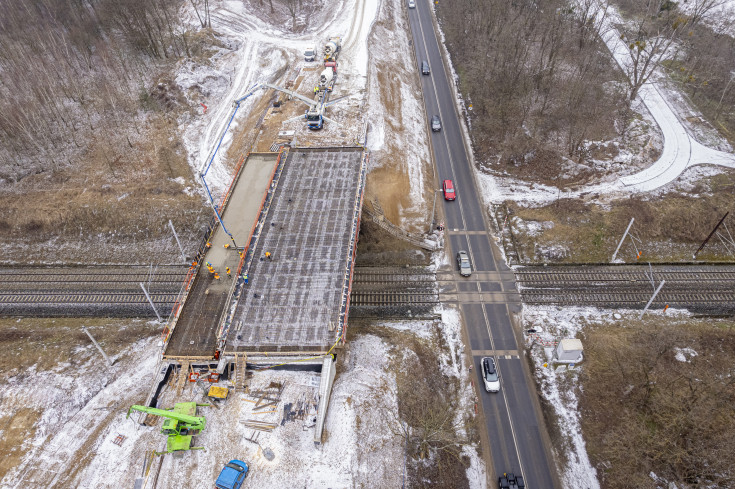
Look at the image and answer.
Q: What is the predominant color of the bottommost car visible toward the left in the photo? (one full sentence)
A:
The bottommost car visible toward the left looks blue in the image.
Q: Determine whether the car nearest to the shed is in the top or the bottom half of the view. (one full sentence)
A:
Seen from above, the car nearest to the shed lies in the bottom half of the view.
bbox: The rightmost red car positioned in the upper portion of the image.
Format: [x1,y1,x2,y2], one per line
[442,177,457,197]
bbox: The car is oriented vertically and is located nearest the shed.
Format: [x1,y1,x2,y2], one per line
[477,353,499,390]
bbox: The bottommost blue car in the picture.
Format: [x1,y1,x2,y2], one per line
[211,454,247,489]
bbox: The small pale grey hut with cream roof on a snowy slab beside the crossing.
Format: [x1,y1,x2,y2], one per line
[553,338,582,364]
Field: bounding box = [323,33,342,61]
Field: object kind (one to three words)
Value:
vehicle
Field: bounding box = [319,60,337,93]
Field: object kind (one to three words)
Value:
vehicle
